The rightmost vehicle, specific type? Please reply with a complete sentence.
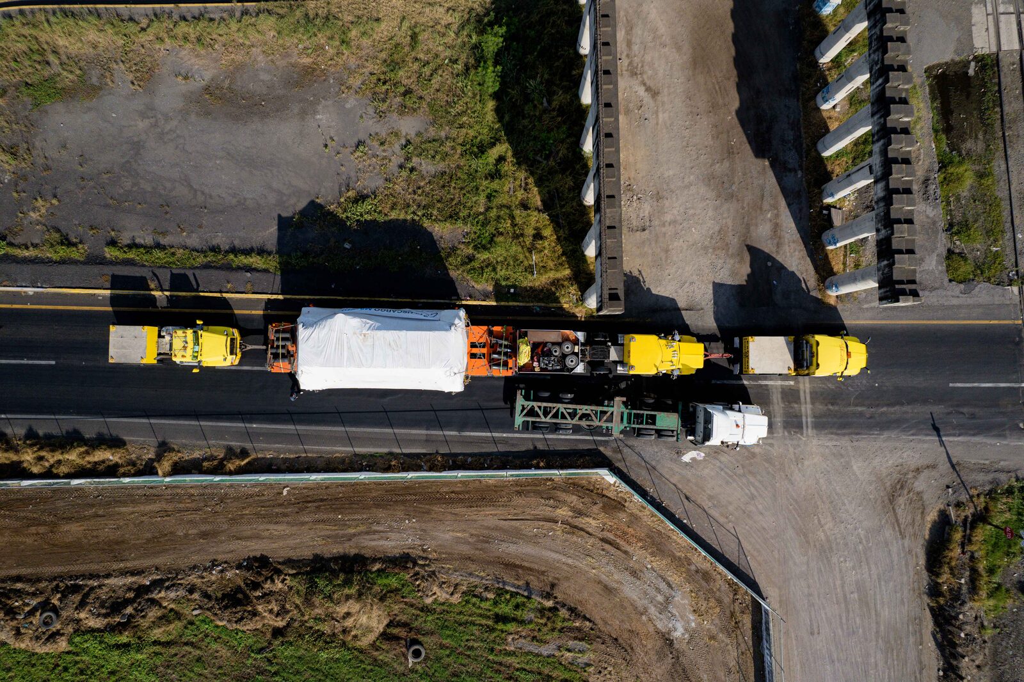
Looking closely, the rightmost vehicle is a truck.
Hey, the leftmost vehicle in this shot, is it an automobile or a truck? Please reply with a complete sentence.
It looks like the leftmost vehicle is a truck.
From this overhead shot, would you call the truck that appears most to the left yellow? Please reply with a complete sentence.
Yes, the truck that appears most to the left is yellow.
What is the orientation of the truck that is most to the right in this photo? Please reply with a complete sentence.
In this picture, the truck that is most to the right is oriented horizontally.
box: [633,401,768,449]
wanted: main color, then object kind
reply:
white truck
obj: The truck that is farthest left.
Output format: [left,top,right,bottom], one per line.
[110,320,245,371]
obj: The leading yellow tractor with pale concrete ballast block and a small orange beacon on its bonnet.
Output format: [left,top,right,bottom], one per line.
[727,330,873,382]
